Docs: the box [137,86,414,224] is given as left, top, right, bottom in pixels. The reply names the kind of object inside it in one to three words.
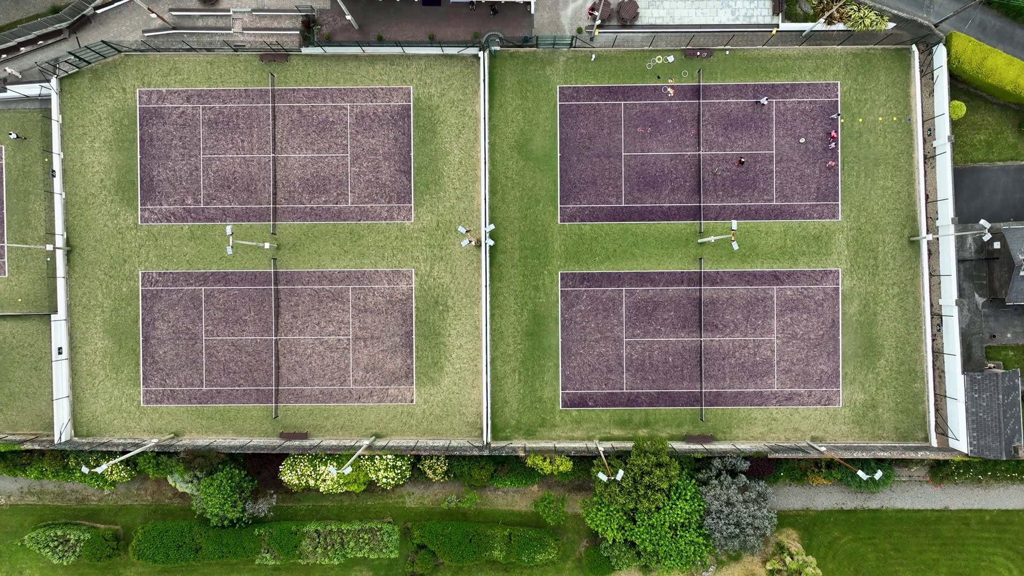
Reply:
tennis court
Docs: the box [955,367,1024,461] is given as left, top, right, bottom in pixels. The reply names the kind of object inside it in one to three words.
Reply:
shed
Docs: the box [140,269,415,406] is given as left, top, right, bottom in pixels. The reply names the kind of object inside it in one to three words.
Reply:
tennis court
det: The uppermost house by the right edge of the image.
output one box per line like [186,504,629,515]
[980,225,1024,305]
